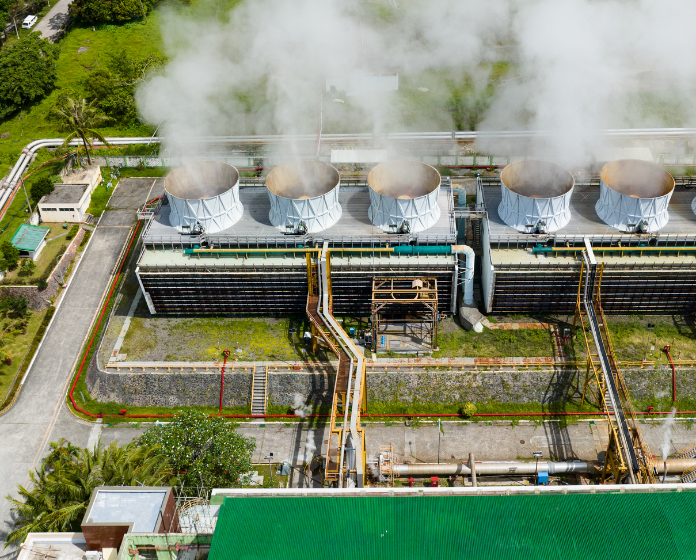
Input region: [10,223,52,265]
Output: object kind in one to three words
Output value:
shed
